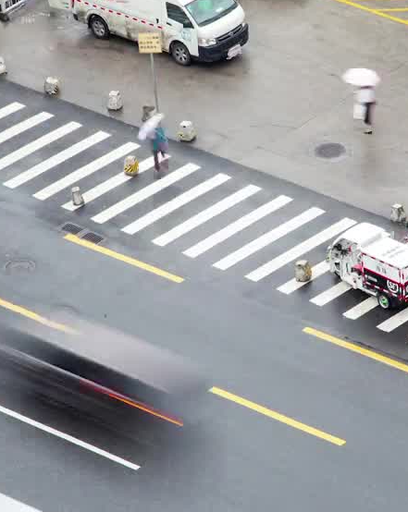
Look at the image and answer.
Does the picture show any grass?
No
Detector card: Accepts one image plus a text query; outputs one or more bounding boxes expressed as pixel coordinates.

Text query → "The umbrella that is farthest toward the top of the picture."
[339,69,383,103]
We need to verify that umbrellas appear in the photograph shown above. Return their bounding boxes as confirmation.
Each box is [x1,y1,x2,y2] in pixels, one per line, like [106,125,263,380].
[339,69,383,103]
[140,113,170,143]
